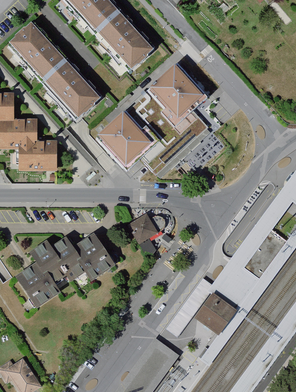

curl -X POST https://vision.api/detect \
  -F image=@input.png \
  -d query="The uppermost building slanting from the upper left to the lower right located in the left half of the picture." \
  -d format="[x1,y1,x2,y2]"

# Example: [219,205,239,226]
[61,0,154,70]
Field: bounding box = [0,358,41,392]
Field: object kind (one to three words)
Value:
house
